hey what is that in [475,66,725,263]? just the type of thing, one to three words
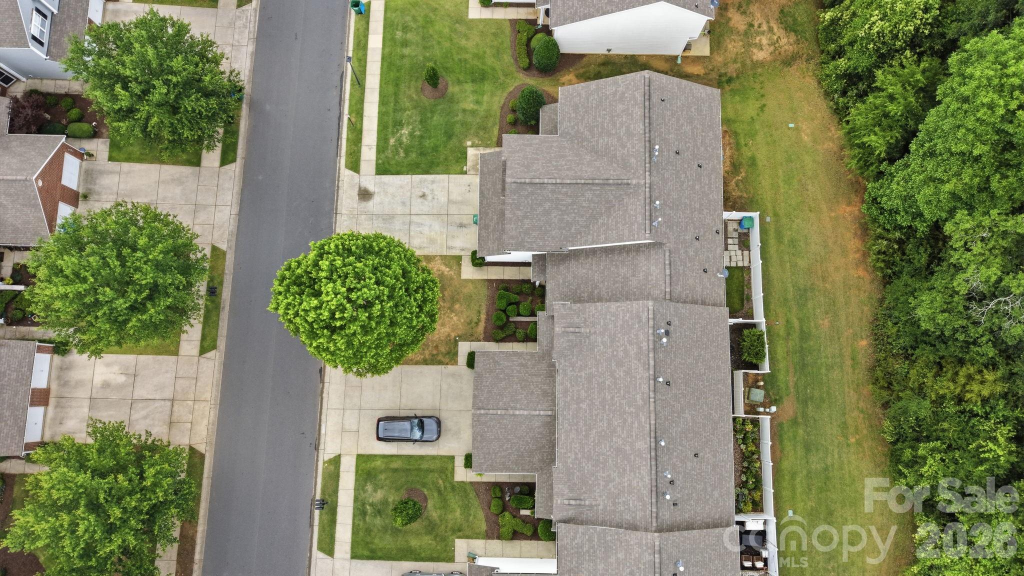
house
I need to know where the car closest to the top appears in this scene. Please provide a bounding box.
[374,412,441,446]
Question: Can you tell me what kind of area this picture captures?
residential area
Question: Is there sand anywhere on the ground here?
No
